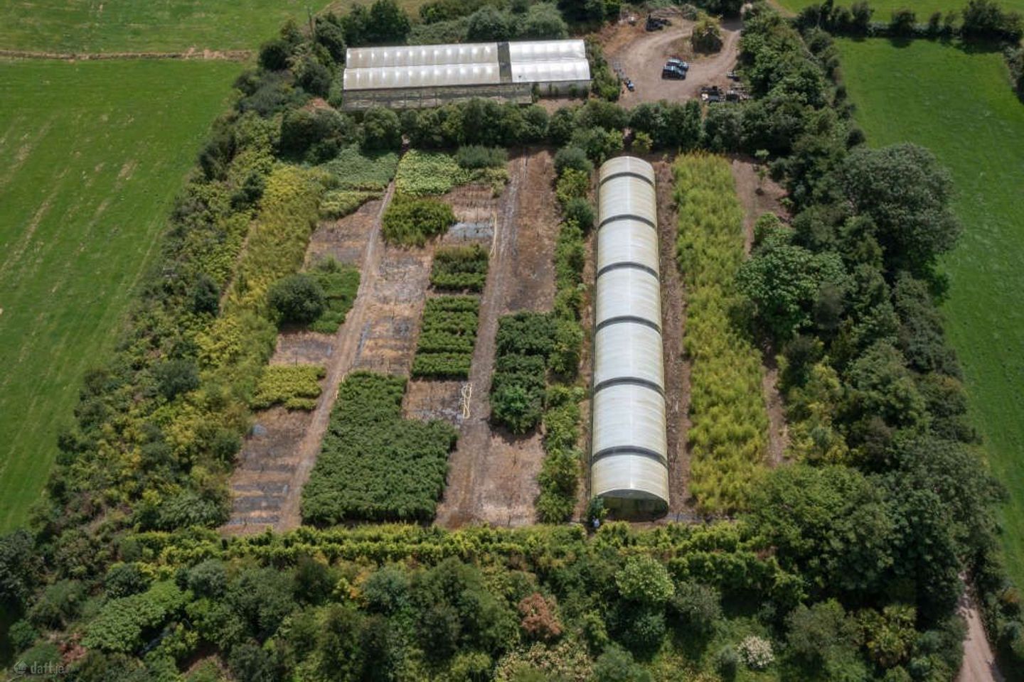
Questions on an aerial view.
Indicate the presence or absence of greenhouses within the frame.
Yes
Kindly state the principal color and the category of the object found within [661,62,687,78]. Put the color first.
black car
